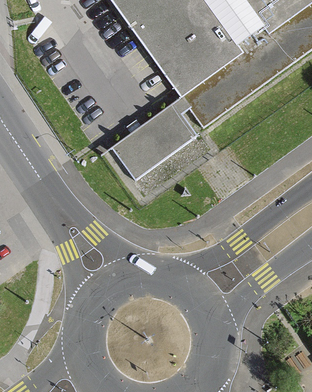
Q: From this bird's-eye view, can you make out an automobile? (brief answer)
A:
Yes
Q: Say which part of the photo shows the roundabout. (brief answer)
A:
bottom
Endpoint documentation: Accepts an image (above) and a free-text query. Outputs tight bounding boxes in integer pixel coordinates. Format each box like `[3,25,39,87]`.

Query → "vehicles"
[42,48,62,66]
[116,39,138,58]
[130,254,157,275]
[88,2,109,20]
[0,246,12,260]
[100,22,123,40]
[62,78,83,95]
[48,59,68,76]
[27,12,52,44]
[94,12,116,30]
[141,73,163,92]
[84,106,106,124]
[35,36,59,56]
[108,30,130,48]
[77,96,99,114]
[28,0,42,12]
[80,0,99,9]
